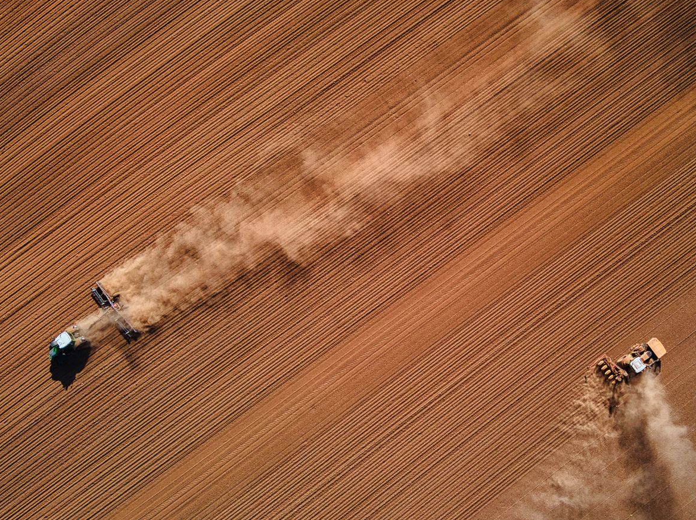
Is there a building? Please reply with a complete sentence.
No, no building is visible in the view.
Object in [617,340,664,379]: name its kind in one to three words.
work vehicle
